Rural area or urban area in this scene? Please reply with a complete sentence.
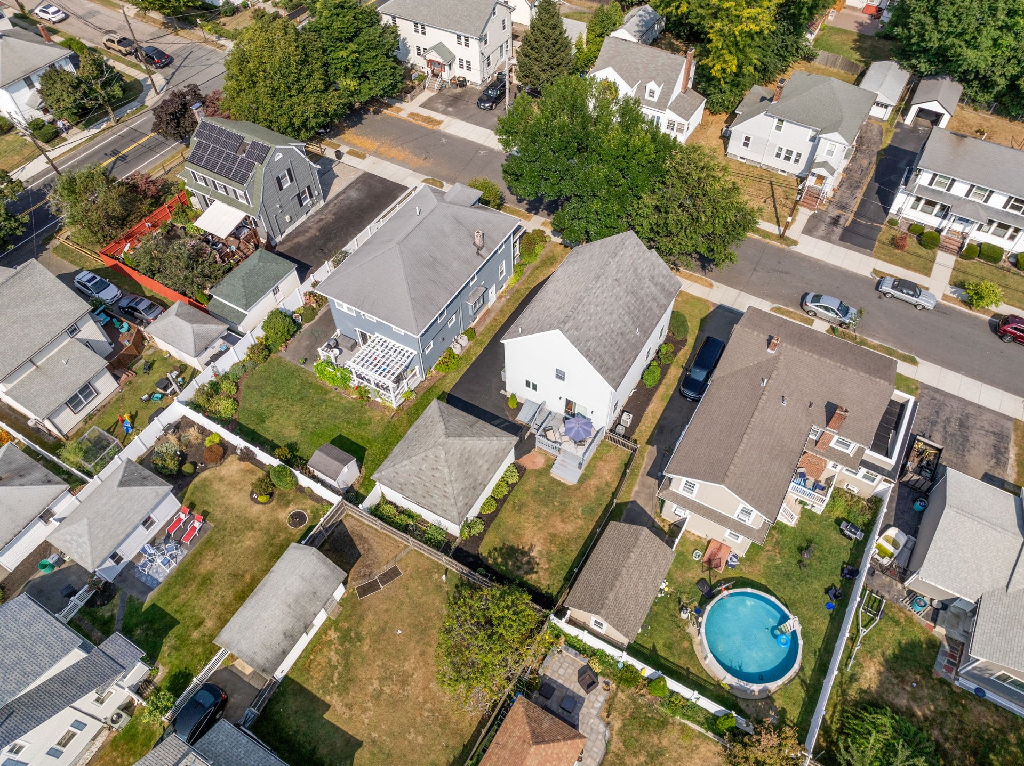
The area shown here is urban.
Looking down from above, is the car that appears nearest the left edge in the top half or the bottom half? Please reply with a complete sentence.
You can find the car that appears nearest the left edge in the top half.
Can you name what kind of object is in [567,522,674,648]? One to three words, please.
building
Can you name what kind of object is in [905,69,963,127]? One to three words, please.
building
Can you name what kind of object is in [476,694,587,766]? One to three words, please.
house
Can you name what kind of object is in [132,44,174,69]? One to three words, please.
car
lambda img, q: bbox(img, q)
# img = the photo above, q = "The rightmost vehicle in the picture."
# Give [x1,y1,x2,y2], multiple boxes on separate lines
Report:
[992,313,1024,346]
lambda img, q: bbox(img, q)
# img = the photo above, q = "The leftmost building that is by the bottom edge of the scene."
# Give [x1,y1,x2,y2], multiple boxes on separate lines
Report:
[0,575,153,766]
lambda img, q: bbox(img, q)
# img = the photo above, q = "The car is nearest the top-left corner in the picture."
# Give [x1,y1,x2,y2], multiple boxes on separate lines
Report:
[35,1,70,24]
